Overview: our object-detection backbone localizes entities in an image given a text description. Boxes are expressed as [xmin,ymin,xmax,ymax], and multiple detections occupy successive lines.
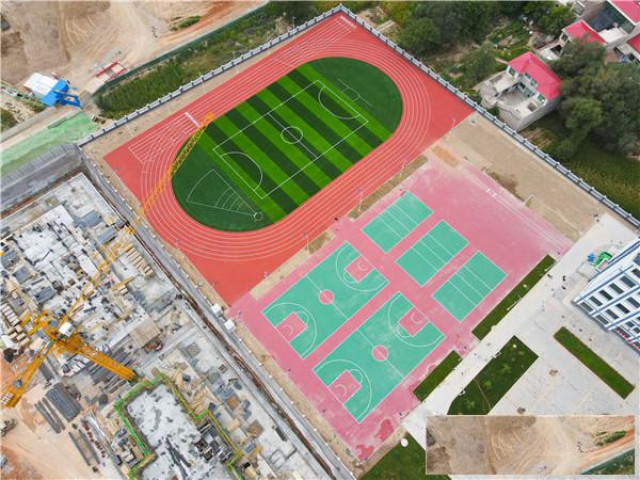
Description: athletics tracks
[103,11,474,303]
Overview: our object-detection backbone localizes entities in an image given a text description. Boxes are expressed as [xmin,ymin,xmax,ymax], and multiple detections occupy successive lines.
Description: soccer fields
[170,57,402,233]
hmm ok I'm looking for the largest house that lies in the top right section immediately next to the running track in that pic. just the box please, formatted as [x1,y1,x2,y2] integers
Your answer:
[477,48,574,128]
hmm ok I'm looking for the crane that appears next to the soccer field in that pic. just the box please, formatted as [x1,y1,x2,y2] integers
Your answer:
[0,112,217,408]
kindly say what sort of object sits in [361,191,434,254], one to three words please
sports court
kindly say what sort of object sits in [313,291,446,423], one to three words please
basketball court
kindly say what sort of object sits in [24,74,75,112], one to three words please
shed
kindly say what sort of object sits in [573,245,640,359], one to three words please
building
